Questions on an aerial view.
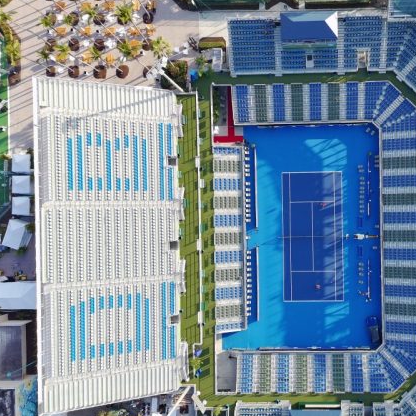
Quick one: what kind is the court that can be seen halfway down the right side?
tennis court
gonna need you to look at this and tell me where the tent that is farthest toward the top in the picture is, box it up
[12,154,37,173]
